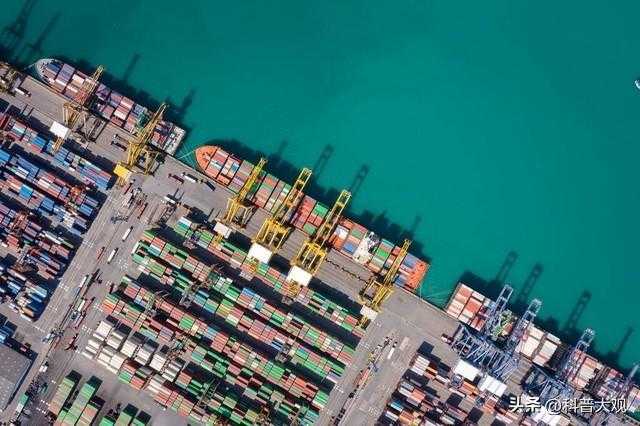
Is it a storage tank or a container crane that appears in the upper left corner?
container crane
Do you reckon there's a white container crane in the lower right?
Yes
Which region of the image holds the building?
bottom left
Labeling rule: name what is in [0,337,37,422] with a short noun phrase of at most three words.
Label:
building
